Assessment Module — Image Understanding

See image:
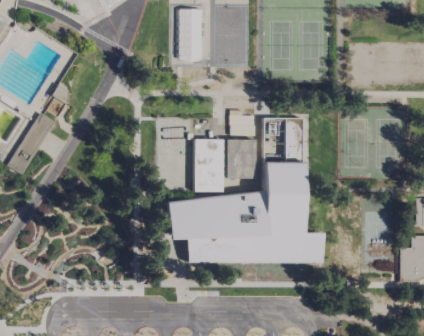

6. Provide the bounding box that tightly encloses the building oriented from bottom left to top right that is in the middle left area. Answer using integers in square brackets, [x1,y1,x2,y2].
[5,116,54,172]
